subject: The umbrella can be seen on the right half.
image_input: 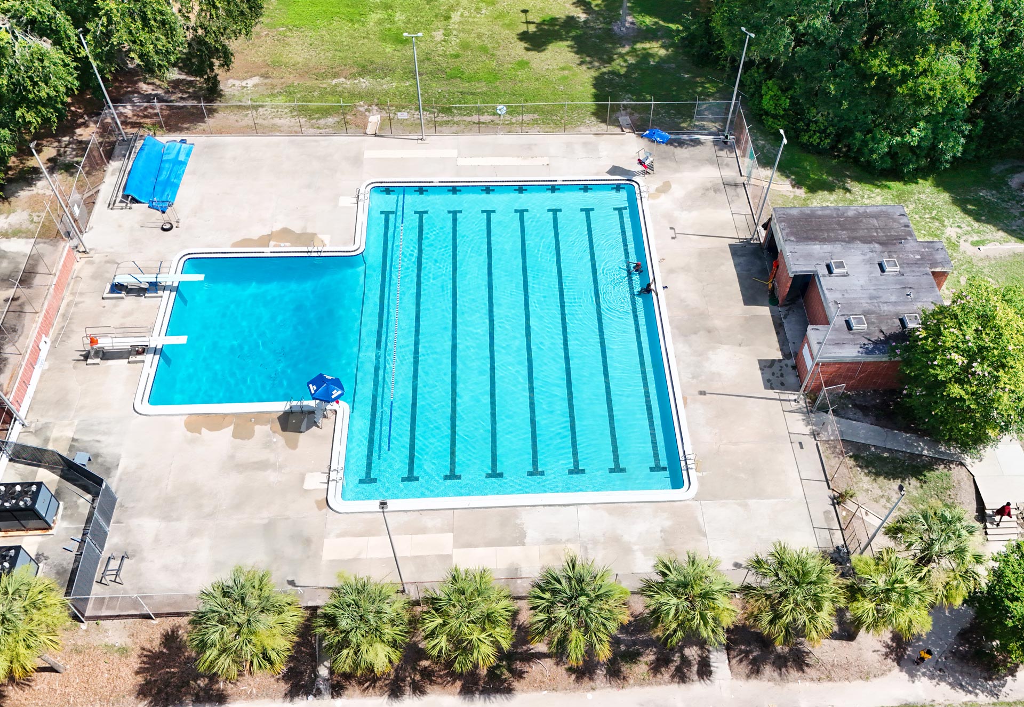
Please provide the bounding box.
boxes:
[639,130,669,150]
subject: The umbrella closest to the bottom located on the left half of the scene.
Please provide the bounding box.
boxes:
[304,371,348,408]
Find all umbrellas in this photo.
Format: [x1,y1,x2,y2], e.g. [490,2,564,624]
[304,371,348,408]
[639,130,669,150]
